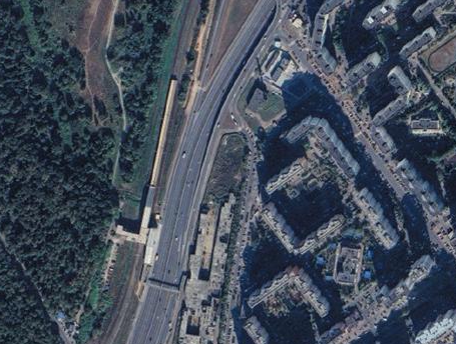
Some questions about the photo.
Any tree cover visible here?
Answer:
Yes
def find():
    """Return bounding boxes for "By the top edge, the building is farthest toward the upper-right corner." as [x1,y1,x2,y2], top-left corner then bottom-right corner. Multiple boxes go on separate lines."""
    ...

[414,0,452,20]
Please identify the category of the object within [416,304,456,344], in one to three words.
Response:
building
